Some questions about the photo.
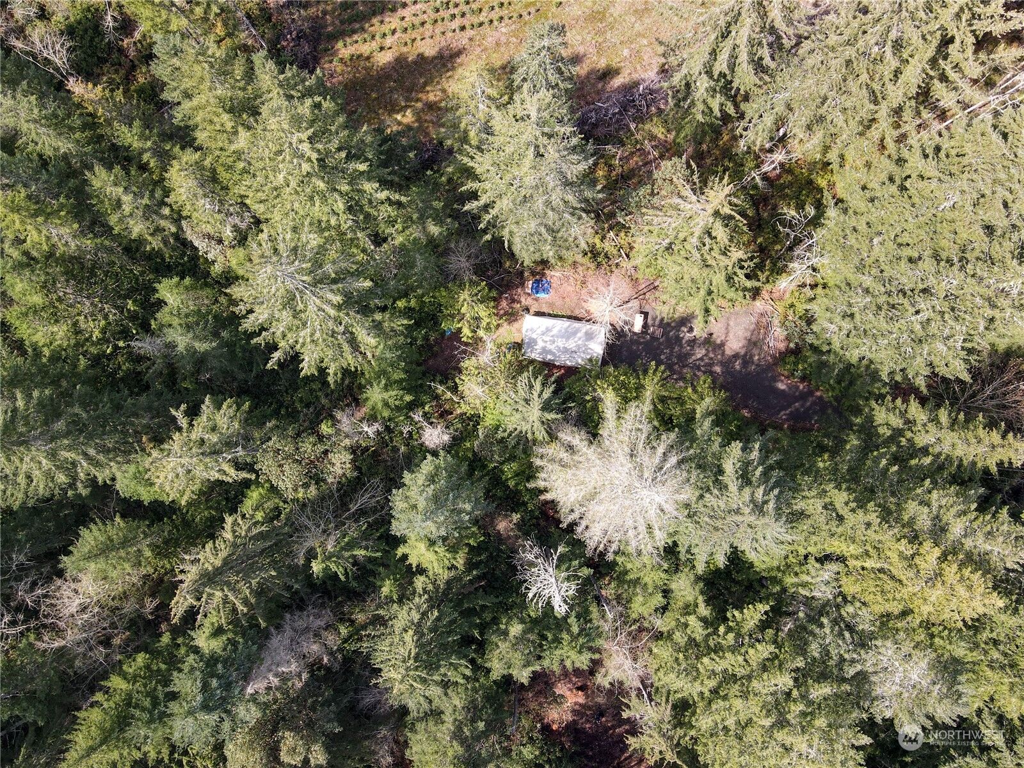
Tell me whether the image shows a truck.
No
